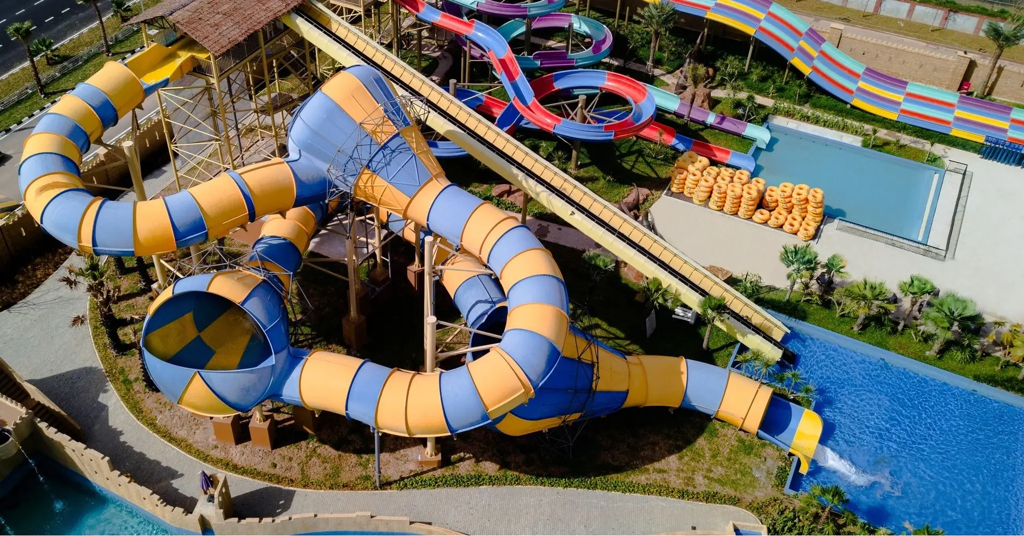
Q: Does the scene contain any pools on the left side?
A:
No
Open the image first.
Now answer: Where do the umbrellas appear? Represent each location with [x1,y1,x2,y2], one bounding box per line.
[196,470,214,499]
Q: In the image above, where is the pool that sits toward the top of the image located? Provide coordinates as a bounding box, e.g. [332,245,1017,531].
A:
[752,123,934,243]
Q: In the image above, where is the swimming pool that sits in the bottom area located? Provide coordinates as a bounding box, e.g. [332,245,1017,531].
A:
[735,330,1024,536]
